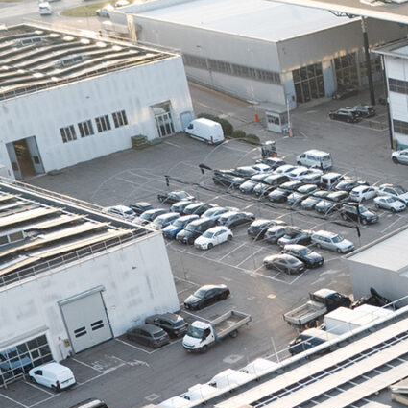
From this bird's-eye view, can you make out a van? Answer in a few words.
Yes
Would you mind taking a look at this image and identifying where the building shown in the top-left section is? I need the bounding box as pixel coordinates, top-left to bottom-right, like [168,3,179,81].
[0,13,197,186]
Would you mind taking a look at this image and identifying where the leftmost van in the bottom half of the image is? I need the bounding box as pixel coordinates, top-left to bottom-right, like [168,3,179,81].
[26,361,79,392]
